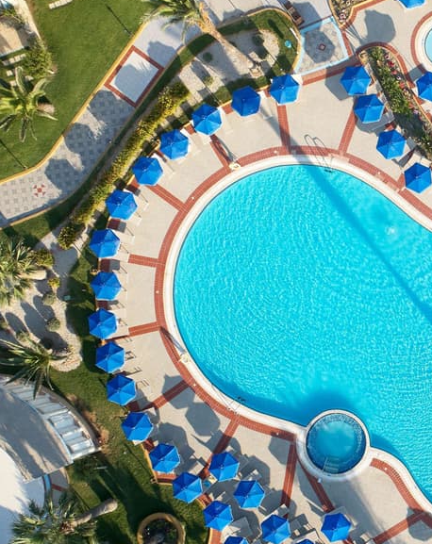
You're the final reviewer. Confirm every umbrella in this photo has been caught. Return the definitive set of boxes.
[323,509,353,542]
[377,131,408,162]
[123,408,154,443]
[223,534,250,544]
[419,71,432,102]
[402,161,432,196]
[206,497,235,531]
[135,155,164,187]
[397,0,425,11]
[107,371,139,404]
[92,268,126,302]
[262,510,291,544]
[191,103,224,135]
[270,73,300,107]
[175,470,205,502]
[90,307,121,339]
[96,340,129,375]
[163,130,194,162]
[209,450,242,482]
[231,87,263,119]
[152,440,183,472]
[234,476,265,510]
[107,187,139,222]
[355,92,386,127]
